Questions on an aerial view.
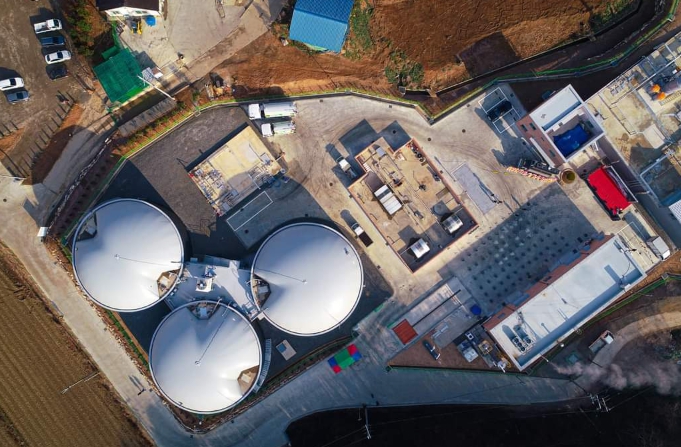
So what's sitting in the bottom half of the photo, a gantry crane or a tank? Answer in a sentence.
What appears in the bottom half of the photo is a tank.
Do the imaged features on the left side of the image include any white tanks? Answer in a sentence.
Yes, I can see a white tank on the left side of the image.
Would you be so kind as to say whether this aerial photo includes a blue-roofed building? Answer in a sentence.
Yes, there is a blue-roofed building in the image.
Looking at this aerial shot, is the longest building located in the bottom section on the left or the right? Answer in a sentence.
You can find the longest building located in the bottom section on the right side of the picture.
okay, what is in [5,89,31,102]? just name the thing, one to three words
vehicle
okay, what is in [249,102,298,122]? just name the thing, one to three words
vehicle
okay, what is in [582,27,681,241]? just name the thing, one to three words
building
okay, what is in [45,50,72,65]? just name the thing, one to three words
car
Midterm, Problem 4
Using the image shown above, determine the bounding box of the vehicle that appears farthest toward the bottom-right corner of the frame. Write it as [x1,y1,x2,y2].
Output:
[587,331,616,356]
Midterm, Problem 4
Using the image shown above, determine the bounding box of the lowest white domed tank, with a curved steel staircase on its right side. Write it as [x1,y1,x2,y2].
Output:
[150,298,273,413]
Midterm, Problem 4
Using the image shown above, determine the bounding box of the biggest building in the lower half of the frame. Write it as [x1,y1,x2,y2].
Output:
[479,226,646,371]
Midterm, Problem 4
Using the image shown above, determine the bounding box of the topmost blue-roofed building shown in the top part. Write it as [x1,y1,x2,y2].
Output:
[289,0,358,53]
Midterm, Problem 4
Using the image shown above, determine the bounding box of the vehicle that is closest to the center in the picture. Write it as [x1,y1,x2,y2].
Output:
[349,222,376,249]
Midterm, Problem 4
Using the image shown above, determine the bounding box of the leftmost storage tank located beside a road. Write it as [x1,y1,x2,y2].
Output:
[72,198,197,310]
